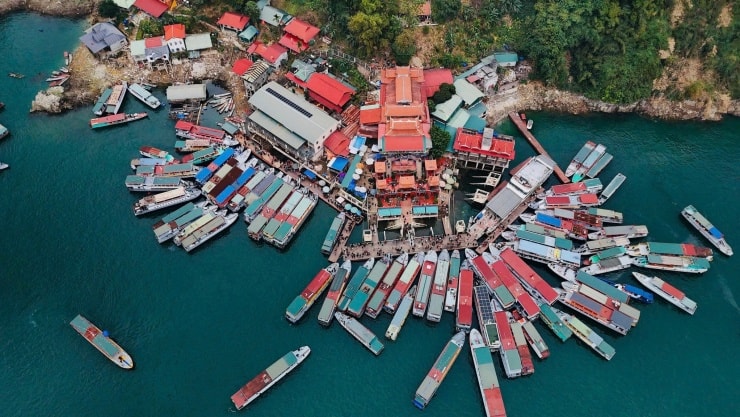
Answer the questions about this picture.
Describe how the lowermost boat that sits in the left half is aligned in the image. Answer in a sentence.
I'd say the lowermost boat that sits in the left half is aligned on a diagonal in the picture.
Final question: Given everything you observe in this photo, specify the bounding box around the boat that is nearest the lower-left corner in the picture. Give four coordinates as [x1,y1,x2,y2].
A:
[69,314,132,369]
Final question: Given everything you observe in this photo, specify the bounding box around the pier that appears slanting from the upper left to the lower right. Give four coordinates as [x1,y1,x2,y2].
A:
[508,113,575,183]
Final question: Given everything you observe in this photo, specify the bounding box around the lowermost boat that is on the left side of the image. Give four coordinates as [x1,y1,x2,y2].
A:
[229,348,310,413]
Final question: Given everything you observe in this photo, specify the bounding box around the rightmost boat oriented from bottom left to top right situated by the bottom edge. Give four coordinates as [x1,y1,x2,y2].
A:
[408,329,462,411]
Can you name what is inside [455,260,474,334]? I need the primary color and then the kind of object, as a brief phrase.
red boat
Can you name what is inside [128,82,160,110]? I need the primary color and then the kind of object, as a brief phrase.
white boat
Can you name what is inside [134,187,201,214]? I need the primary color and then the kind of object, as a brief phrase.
white boat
